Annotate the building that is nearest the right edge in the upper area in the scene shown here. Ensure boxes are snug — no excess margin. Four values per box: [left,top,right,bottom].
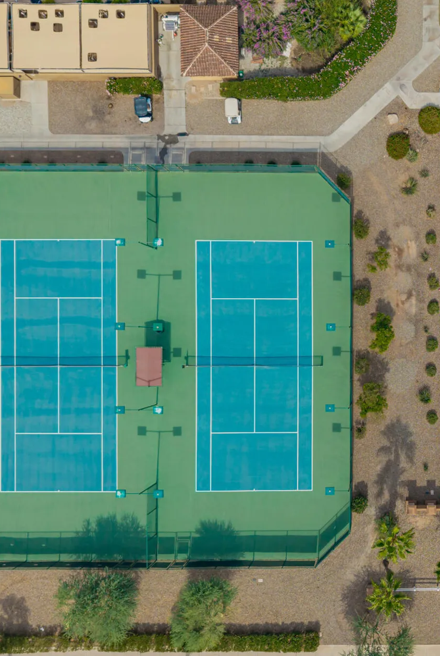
[178,3,240,81]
